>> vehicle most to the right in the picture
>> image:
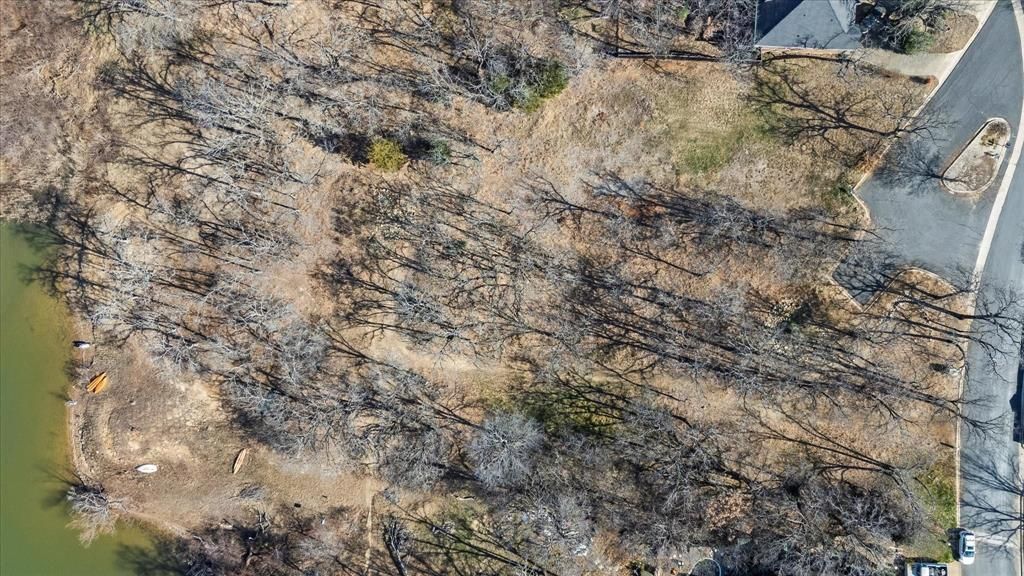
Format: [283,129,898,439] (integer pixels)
[958,530,978,564]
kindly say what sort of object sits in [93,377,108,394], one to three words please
boat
